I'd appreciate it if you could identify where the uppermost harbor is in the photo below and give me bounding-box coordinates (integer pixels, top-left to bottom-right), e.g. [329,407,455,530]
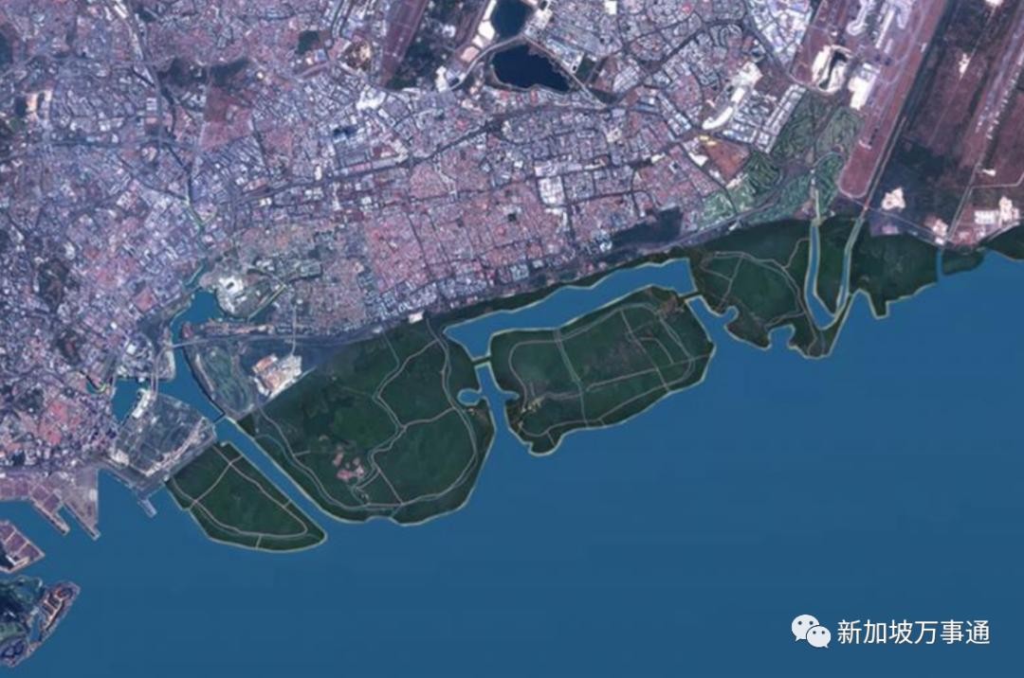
[0,469,100,540]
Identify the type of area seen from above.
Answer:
port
